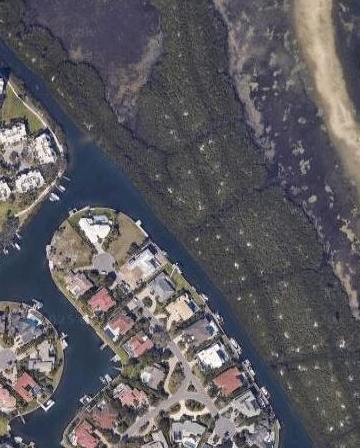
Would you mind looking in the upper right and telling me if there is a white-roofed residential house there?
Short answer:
No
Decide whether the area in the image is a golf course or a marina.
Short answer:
marina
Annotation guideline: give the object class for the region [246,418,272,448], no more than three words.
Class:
house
